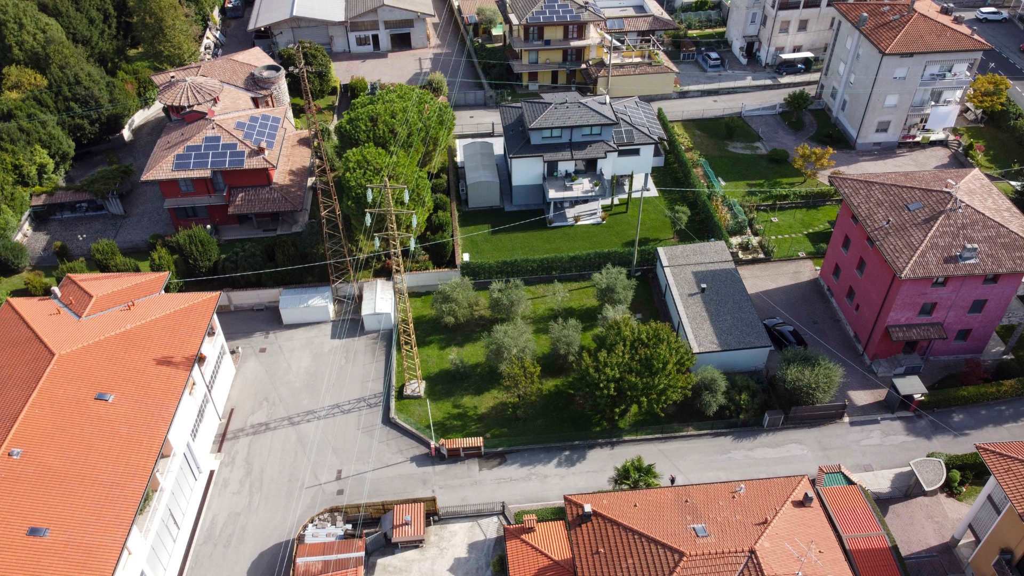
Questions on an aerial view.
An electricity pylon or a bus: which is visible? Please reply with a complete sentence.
The image shows an electricity pylon.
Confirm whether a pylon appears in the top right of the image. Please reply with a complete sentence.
No, no pylon appears in the top right of the image.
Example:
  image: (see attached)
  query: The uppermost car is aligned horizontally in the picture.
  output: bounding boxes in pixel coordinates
[979,9,1007,22]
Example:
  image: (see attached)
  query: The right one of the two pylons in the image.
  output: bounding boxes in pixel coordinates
[366,172,426,400]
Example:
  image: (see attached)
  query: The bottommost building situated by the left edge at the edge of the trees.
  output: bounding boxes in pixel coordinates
[0,270,232,576]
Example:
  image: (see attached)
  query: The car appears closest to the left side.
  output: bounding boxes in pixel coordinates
[704,54,719,67]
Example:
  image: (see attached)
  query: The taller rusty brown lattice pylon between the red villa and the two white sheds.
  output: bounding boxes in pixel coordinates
[288,44,357,319]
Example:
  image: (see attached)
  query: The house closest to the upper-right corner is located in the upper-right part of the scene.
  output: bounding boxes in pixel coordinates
[817,0,995,148]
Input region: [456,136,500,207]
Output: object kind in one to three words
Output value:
building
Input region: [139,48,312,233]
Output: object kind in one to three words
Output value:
house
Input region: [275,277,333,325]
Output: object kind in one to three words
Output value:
shed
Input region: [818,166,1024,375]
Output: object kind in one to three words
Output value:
house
